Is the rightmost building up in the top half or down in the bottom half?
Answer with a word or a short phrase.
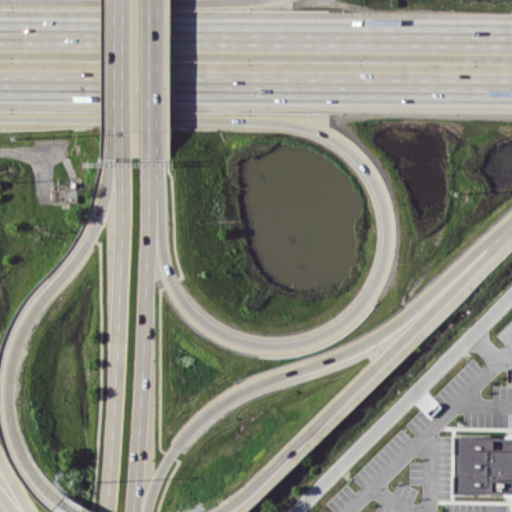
bottom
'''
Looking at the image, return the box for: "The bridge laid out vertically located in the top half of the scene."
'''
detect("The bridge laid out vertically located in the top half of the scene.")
[101,0,170,159]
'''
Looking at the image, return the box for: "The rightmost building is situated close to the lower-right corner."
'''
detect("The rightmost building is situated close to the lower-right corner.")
[455,434,512,500]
